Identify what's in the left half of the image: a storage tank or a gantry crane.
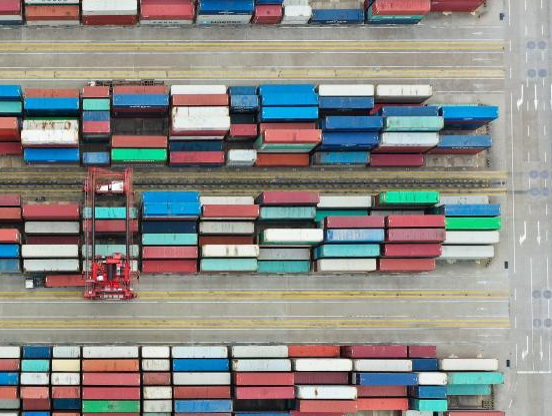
gantry crane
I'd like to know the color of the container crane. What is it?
red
